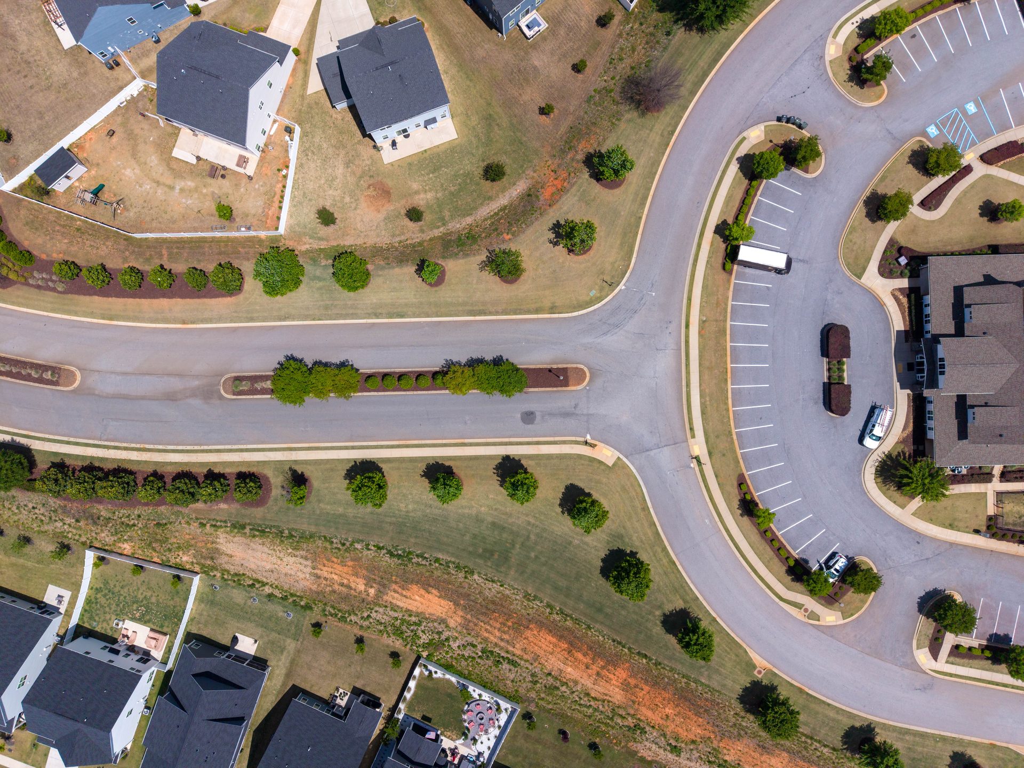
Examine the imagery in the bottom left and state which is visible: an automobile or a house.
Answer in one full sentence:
The feature located in the bottom left is a house.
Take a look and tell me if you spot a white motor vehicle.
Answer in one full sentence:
Yes, the photo shows a white motor vehicle.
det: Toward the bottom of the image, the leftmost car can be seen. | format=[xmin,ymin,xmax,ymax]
[822,554,850,590]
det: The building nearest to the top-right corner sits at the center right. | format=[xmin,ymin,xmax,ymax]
[908,253,1024,466]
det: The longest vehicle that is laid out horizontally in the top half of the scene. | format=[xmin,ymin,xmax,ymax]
[730,244,788,272]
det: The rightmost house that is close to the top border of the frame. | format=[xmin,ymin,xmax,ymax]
[476,0,543,41]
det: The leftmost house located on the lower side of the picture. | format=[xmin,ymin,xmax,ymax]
[0,583,70,745]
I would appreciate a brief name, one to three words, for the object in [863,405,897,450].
truck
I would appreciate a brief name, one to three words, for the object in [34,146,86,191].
shed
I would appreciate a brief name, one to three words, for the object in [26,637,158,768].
house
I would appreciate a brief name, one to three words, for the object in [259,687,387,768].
house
